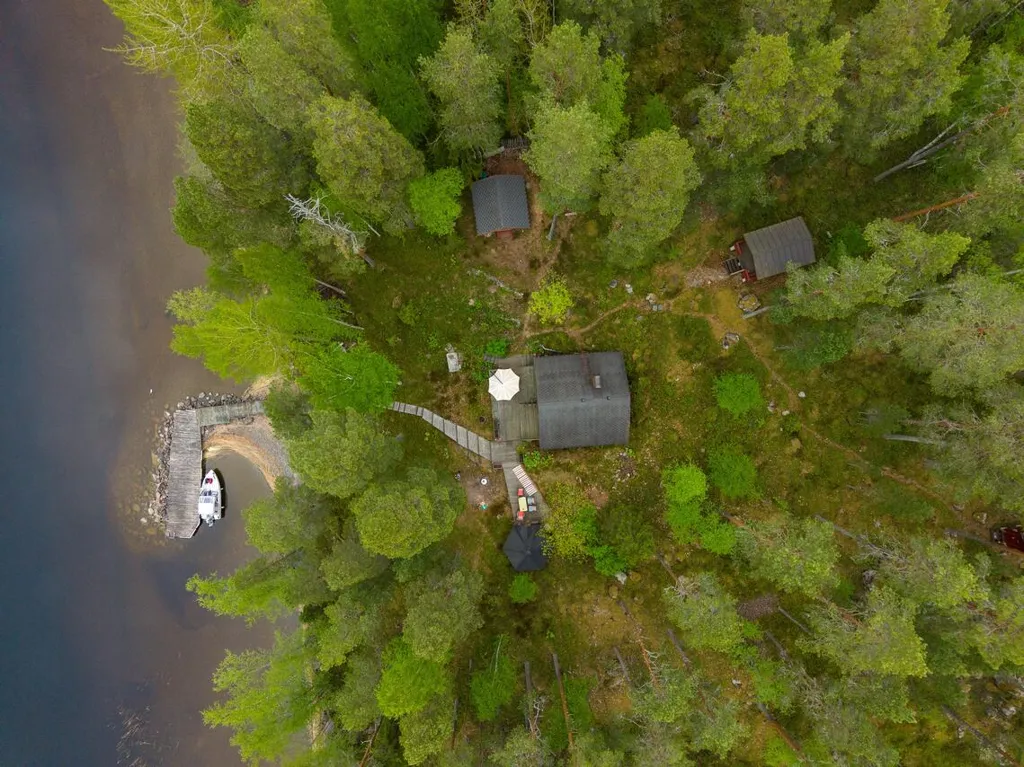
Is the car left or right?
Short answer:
right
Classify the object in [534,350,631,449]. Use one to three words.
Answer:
building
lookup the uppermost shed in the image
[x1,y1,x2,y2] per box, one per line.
[473,175,530,242]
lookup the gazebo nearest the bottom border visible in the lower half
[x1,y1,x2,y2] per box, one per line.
[504,523,548,571]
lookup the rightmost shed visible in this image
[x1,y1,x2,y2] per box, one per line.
[719,216,816,283]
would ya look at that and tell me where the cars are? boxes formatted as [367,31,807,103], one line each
[995,527,1024,552]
